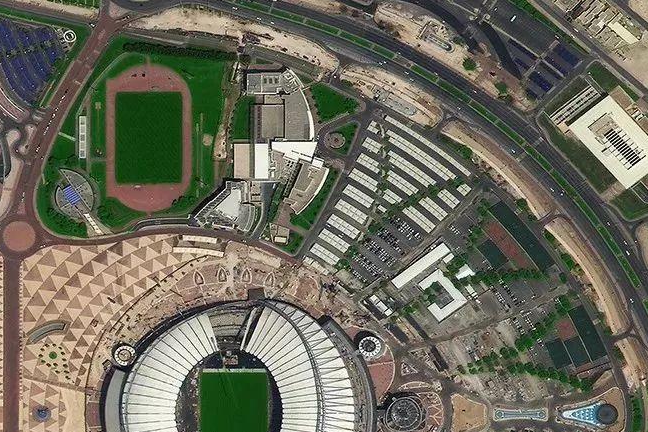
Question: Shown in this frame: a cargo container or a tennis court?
tennis court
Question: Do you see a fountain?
Yes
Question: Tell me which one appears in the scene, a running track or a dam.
running track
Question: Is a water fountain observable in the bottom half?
Yes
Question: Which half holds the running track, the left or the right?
left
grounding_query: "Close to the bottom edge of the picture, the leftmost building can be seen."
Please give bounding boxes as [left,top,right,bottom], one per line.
[386,396,424,432]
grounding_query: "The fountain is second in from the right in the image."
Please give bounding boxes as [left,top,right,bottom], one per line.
[493,408,549,421]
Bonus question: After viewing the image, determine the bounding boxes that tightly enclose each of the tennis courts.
[488,201,554,272]
[546,338,573,369]
[564,337,591,368]
[483,220,538,270]
[557,317,578,341]
[478,240,508,270]
[568,305,607,362]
